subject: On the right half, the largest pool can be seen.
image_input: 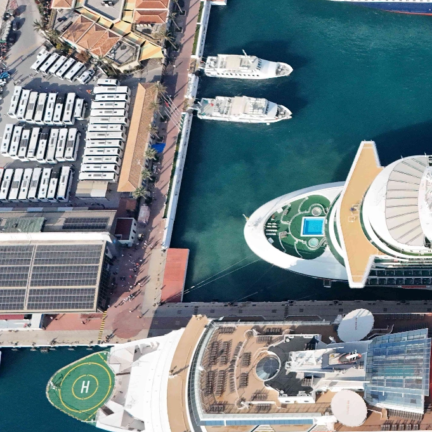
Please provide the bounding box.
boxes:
[301,217,326,237]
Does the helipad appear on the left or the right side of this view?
left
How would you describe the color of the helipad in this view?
green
